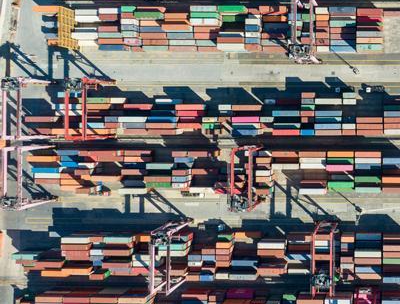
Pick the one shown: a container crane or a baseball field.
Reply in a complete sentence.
Visible in the photo is a container crane.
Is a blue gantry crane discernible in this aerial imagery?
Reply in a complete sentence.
No, I can't see a single blue gantry crane in this photo.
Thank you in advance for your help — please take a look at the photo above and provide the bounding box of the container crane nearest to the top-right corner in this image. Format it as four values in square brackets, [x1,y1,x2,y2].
[291,0,325,69]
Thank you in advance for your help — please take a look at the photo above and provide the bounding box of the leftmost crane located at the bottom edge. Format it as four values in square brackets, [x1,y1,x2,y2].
[148,217,198,296]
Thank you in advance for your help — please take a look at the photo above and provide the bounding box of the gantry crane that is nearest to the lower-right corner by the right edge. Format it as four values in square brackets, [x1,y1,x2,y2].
[352,270,381,304]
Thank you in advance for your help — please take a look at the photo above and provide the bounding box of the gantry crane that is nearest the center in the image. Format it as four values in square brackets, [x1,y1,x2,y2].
[229,141,270,213]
